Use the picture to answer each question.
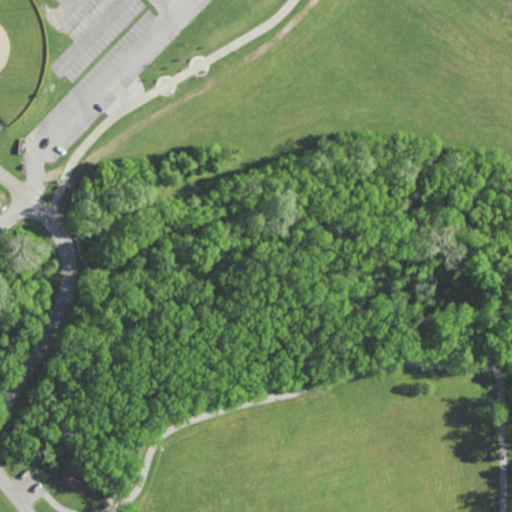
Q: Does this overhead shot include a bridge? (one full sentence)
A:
No, there isn't any bridge down there.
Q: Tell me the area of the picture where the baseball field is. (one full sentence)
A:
The baseball field is in the top left part of the image.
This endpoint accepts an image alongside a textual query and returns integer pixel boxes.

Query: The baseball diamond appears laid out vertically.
[0,0,45,125]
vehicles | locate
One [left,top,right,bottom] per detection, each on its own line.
[40,138,49,148]
[34,483,43,492]
[57,146,68,156]
[22,470,31,480]
[93,104,102,112]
